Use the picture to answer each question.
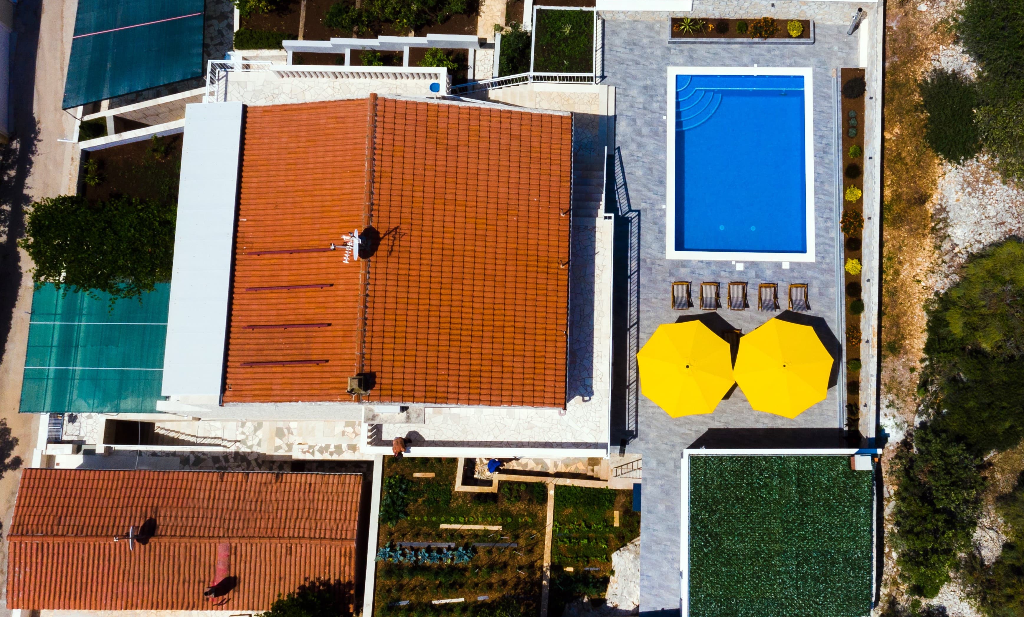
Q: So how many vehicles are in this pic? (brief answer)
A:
zero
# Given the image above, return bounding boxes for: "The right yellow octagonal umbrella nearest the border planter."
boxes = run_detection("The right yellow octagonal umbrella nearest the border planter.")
[731,316,834,420]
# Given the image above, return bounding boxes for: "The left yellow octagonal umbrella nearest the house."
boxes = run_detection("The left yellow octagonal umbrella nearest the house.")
[636,319,736,418]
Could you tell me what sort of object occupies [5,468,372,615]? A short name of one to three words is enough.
house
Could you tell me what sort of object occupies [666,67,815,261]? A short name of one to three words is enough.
swimming pool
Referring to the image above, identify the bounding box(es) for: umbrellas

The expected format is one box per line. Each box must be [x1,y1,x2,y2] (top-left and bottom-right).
[731,316,834,420]
[636,319,736,418]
